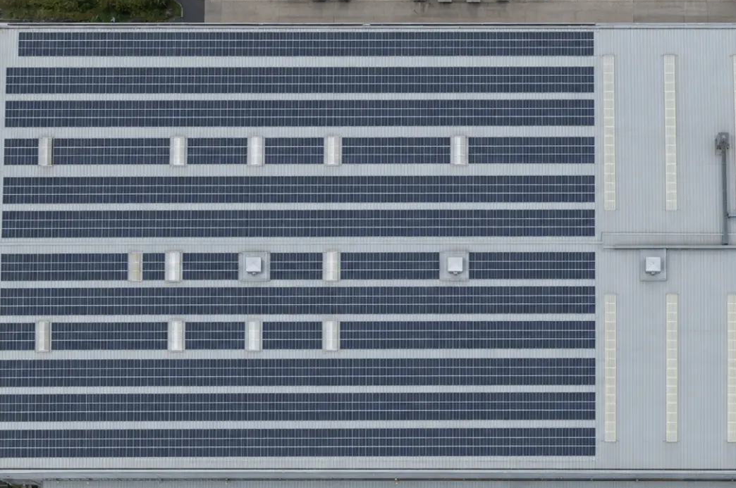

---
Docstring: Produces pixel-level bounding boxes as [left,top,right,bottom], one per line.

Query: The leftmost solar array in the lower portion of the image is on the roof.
[0,322,35,349]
